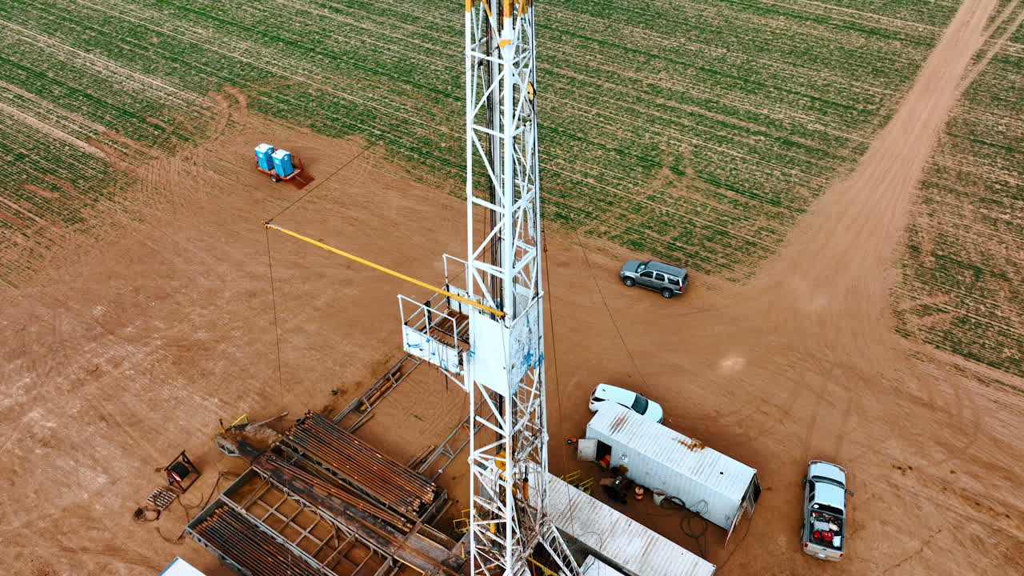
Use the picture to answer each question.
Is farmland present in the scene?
Yes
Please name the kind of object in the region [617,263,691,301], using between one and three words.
car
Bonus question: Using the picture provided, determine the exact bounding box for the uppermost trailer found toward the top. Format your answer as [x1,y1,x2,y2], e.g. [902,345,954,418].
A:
[253,158,319,191]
